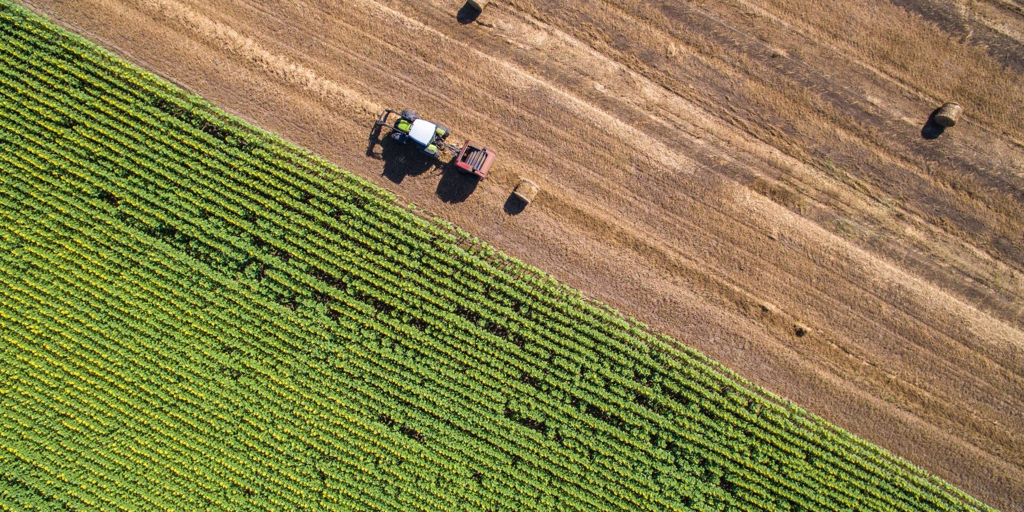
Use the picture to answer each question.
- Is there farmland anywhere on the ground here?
Yes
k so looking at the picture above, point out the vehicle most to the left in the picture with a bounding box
[378,107,457,161]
